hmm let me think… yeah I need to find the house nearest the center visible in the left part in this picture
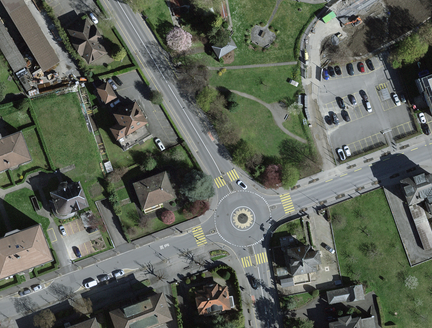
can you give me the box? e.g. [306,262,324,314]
[132,172,176,216]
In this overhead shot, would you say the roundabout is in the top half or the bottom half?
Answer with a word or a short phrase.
bottom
